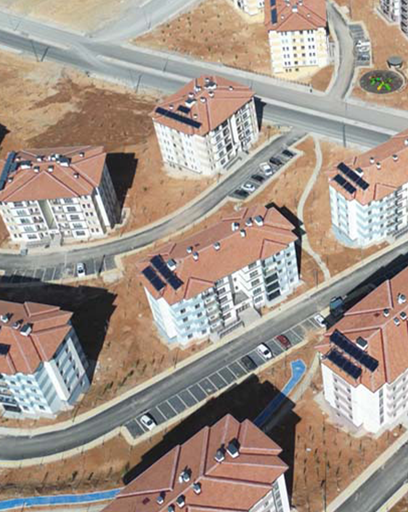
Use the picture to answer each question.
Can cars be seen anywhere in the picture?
Yes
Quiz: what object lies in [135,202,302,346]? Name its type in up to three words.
building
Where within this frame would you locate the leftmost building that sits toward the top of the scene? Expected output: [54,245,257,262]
[0,146,118,250]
